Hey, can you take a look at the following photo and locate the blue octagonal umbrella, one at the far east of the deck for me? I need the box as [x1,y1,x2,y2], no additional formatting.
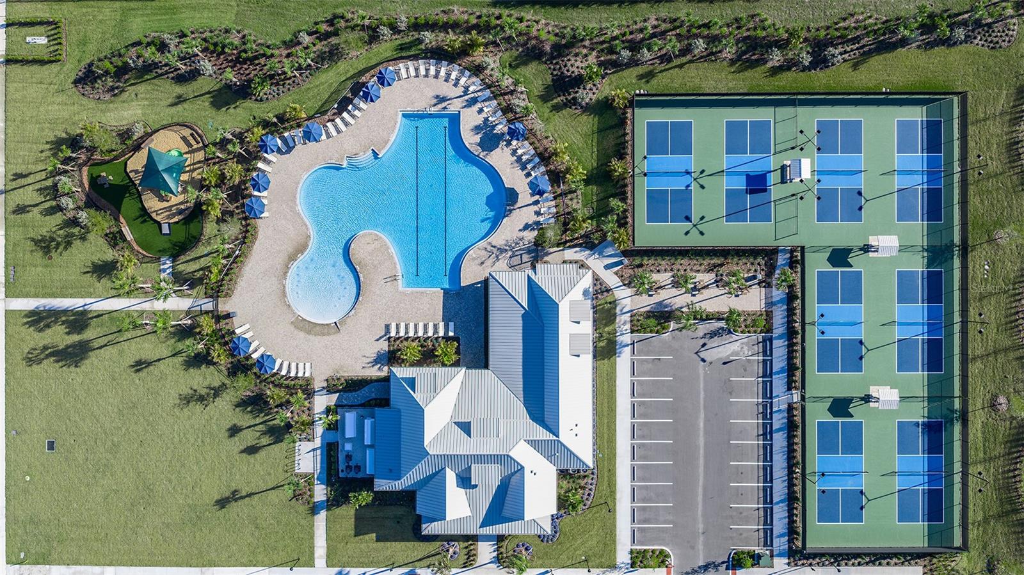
[527,175,551,198]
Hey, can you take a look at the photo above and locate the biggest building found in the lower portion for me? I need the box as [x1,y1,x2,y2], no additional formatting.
[374,263,593,534]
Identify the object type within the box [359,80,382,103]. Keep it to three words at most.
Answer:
umbrella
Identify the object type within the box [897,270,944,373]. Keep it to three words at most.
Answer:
sports court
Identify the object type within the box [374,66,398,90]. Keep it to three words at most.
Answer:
umbrella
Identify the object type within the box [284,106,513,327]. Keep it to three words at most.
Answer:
swimming pool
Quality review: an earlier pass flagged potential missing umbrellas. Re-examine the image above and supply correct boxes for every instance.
[230,335,252,357]
[249,170,273,194]
[374,66,398,90]
[504,125,528,148]
[254,353,277,377]
[256,132,280,156]
[359,80,382,103]
[244,195,268,218]
[527,175,551,198]
[301,120,324,143]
